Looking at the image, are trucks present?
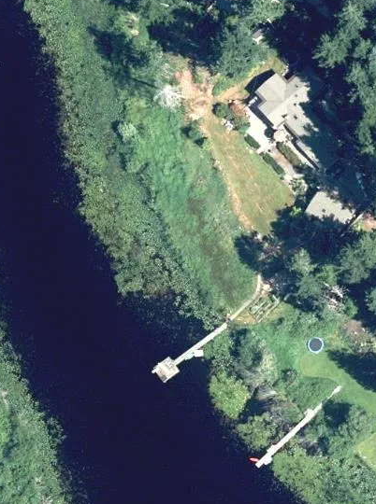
No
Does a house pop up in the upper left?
No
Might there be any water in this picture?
Yes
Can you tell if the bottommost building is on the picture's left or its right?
right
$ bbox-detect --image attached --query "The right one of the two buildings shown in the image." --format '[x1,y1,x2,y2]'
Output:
[304,191,361,224]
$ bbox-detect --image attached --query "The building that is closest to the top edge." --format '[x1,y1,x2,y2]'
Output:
[255,73,337,166]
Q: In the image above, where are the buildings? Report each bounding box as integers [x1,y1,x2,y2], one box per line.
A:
[255,73,337,166]
[304,191,361,224]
